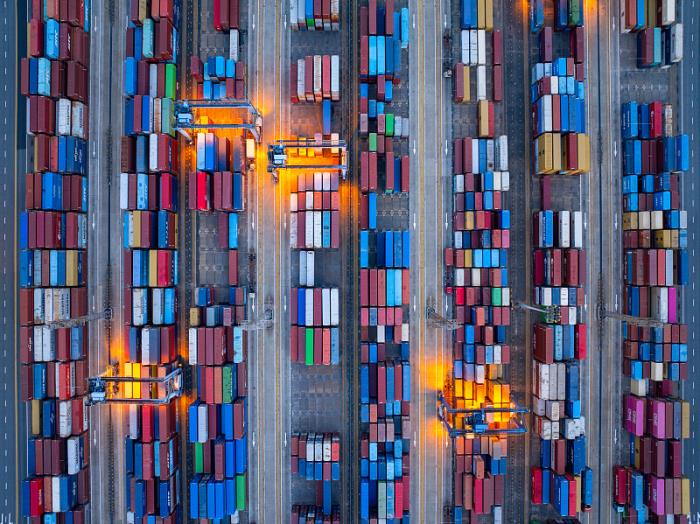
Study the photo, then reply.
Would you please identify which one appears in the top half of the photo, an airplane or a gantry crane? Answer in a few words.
gantry crane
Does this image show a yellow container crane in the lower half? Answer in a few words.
No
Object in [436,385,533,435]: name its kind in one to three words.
container crane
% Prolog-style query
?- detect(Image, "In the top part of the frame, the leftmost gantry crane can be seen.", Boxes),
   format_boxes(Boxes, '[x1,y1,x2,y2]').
[168,100,265,150]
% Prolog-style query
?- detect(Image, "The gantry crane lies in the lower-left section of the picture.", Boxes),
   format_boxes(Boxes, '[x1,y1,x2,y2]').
[80,357,187,404]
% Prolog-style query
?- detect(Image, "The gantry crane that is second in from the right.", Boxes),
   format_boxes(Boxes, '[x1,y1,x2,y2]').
[265,140,349,187]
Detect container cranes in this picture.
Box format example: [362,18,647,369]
[80,357,187,404]
[168,100,265,150]
[265,140,349,187]
[436,385,533,435]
